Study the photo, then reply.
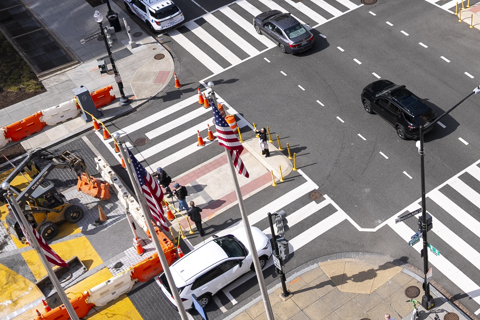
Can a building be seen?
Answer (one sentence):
No, I can see no building in this picture.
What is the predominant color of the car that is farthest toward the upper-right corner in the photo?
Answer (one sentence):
The car that is farthest toward the upper-right corner is black.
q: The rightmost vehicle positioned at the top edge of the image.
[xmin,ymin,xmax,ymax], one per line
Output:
[248,8,315,56]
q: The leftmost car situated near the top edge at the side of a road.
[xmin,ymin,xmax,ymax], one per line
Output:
[120,0,185,34]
